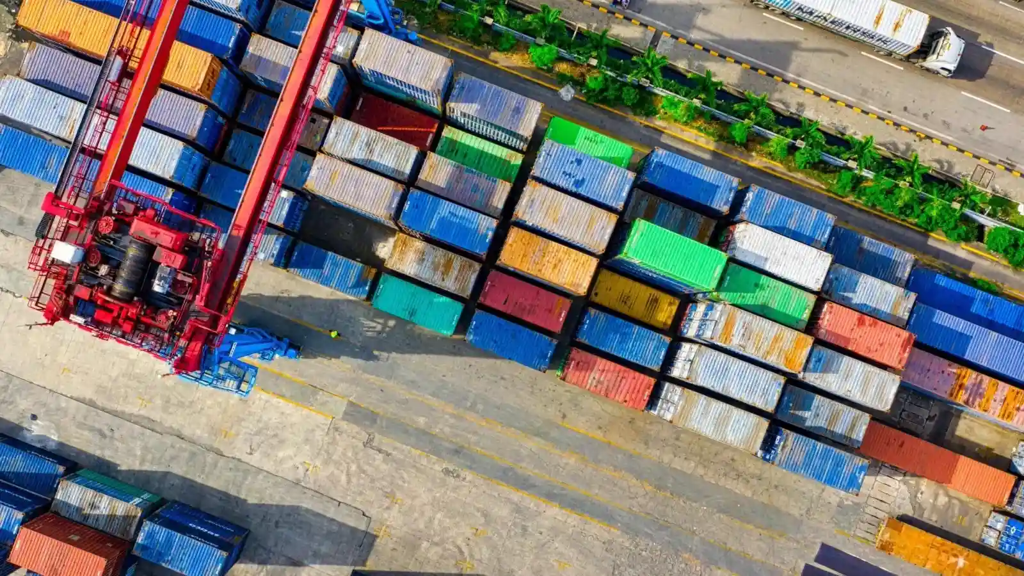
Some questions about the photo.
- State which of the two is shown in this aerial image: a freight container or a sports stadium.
freight container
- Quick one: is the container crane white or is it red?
red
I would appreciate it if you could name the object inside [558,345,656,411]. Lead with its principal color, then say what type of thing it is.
red shipping container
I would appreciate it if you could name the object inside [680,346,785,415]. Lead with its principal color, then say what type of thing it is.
white shipping container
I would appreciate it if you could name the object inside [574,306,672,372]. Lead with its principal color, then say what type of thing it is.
blue shipping container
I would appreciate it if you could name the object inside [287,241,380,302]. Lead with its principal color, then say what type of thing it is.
blue shipping container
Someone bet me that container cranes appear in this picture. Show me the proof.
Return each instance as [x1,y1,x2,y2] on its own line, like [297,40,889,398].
[12,0,430,406]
